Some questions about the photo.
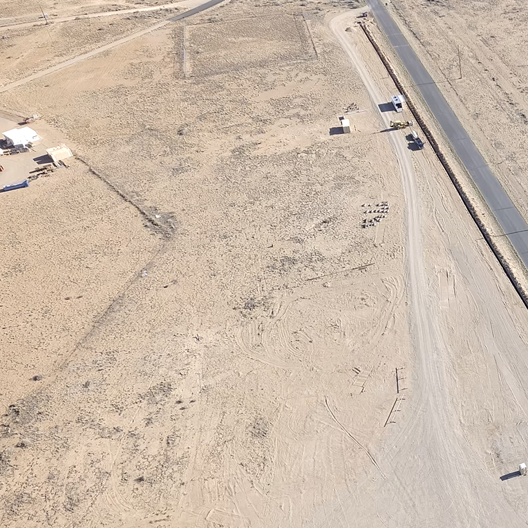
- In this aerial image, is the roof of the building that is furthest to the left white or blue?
white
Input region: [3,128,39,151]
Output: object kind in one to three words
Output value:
building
